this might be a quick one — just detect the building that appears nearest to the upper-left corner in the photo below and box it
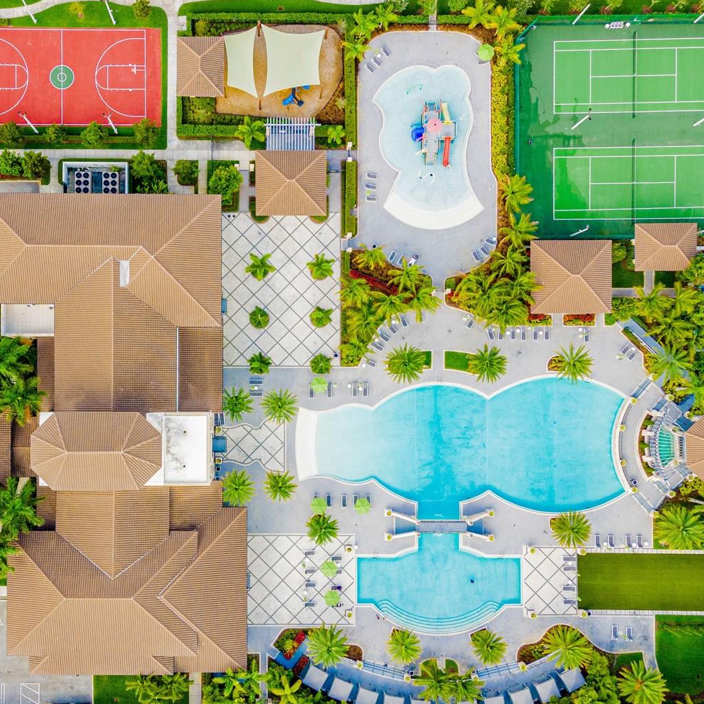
[175,35,226,101]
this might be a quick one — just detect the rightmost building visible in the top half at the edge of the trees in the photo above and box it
[626,222,699,272]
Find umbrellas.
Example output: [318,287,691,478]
[320,558,337,576]
[310,376,327,394]
[310,496,327,512]
[475,45,494,62]
[323,588,341,605]
[353,496,370,513]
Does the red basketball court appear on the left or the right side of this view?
left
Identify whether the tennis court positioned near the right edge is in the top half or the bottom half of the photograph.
top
